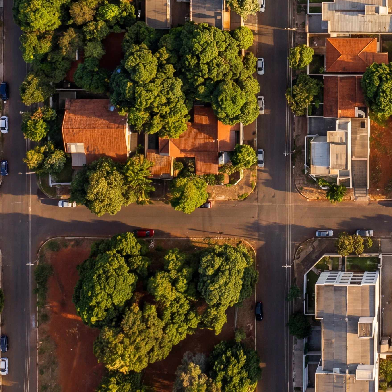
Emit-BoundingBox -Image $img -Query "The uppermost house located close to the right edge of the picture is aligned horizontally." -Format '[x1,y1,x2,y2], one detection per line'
[323,0,392,33]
